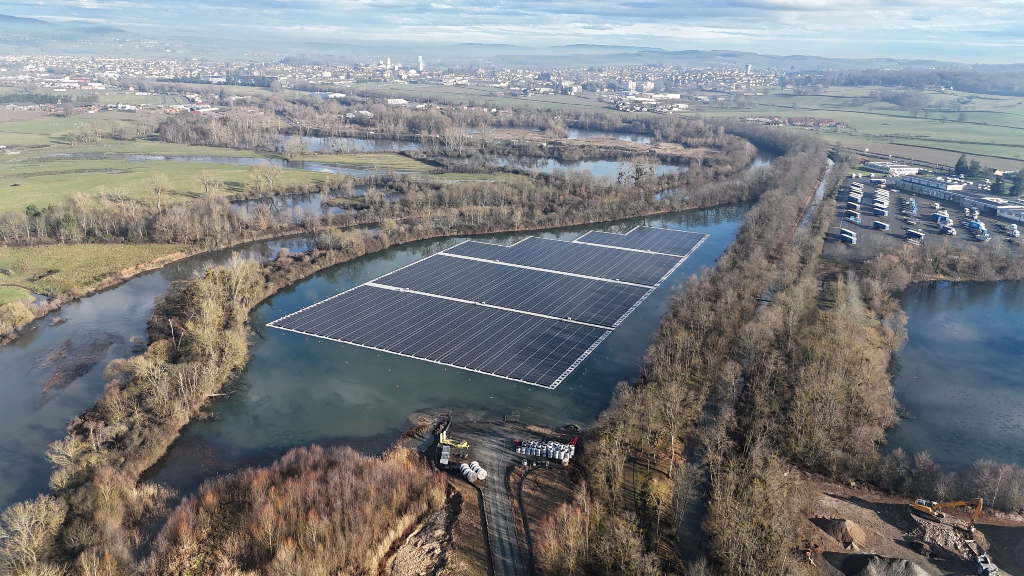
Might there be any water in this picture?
Yes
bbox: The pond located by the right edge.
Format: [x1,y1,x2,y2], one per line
[882,279,1024,494]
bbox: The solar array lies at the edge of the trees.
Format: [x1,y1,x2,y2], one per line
[267,226,710,389]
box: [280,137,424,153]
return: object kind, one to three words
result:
pond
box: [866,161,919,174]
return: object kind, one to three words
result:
building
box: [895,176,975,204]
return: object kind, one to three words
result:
building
